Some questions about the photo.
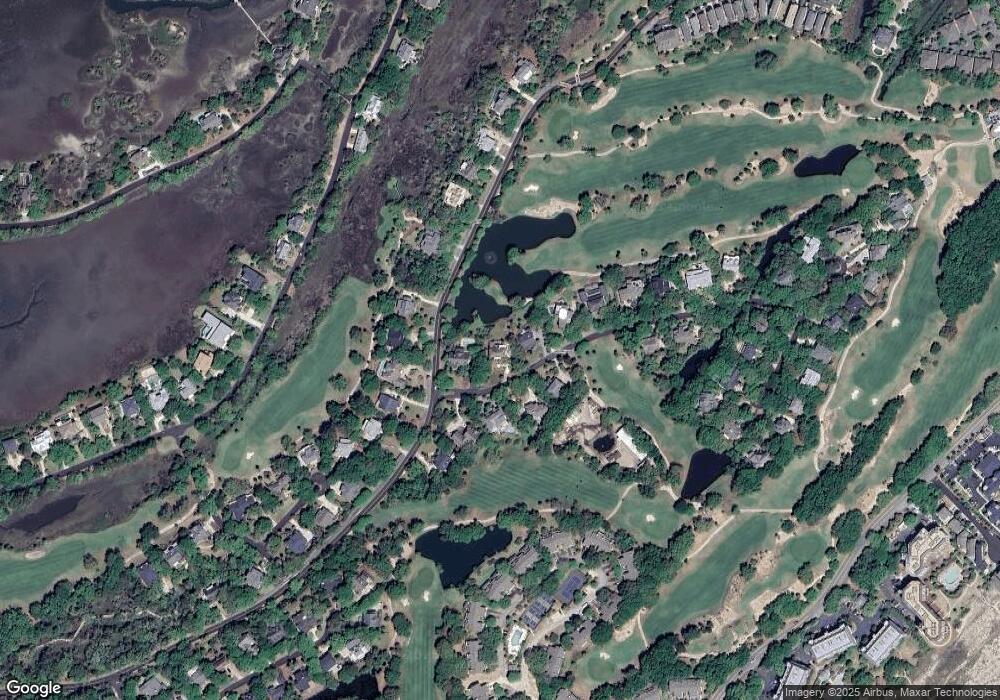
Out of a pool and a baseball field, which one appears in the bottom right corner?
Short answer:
pool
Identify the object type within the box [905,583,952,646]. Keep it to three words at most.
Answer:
building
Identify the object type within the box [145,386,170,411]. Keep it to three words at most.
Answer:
house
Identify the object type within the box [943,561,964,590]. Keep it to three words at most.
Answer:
swimming pool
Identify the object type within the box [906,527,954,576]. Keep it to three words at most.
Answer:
building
